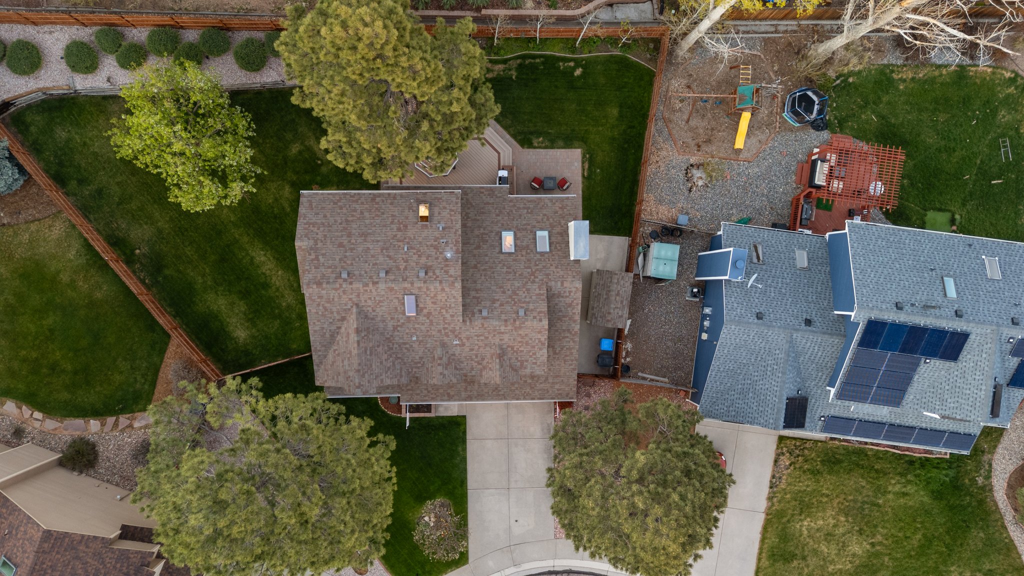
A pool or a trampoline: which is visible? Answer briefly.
trampoline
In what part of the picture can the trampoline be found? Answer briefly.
top right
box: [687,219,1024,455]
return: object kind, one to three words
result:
house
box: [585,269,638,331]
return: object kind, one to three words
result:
shed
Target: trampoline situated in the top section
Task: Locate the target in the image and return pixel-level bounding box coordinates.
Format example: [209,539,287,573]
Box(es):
[782,79,838,128]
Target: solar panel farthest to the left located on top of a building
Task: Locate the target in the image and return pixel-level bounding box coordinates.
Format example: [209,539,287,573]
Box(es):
[786,398,810,429]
